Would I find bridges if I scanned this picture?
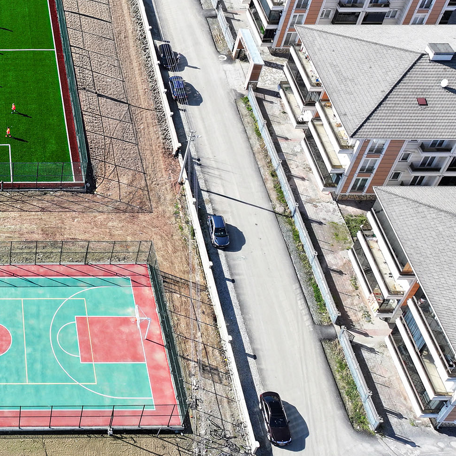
No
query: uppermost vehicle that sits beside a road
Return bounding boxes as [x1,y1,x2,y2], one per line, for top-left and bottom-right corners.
[160,38,179,65]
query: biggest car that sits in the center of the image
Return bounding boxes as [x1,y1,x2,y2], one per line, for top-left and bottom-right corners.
[207,207,234,246]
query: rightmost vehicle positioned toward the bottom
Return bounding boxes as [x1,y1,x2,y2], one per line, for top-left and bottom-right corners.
[257,385,298,442]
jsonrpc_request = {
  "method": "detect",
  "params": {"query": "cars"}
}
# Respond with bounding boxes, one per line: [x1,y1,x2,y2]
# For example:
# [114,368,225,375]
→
[160,38,179,65]
[170,73,191,98]
[257,385,298,442]
[207,207,234,246]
